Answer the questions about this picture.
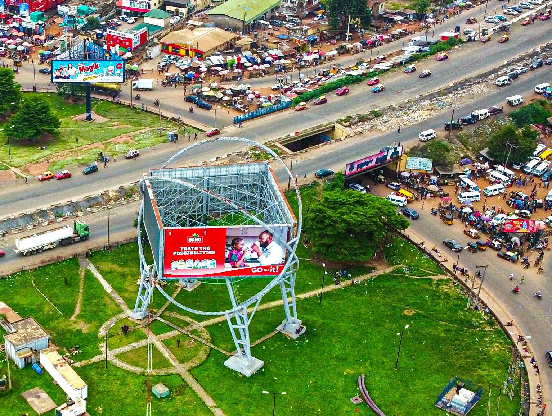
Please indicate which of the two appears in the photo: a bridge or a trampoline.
bridge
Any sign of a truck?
Yes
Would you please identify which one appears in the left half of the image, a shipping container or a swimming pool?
shipping container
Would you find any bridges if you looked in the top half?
Yes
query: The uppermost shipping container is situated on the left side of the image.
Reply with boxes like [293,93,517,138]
[46,341,89,396]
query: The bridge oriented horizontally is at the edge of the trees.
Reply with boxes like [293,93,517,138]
[220,98,432,193]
